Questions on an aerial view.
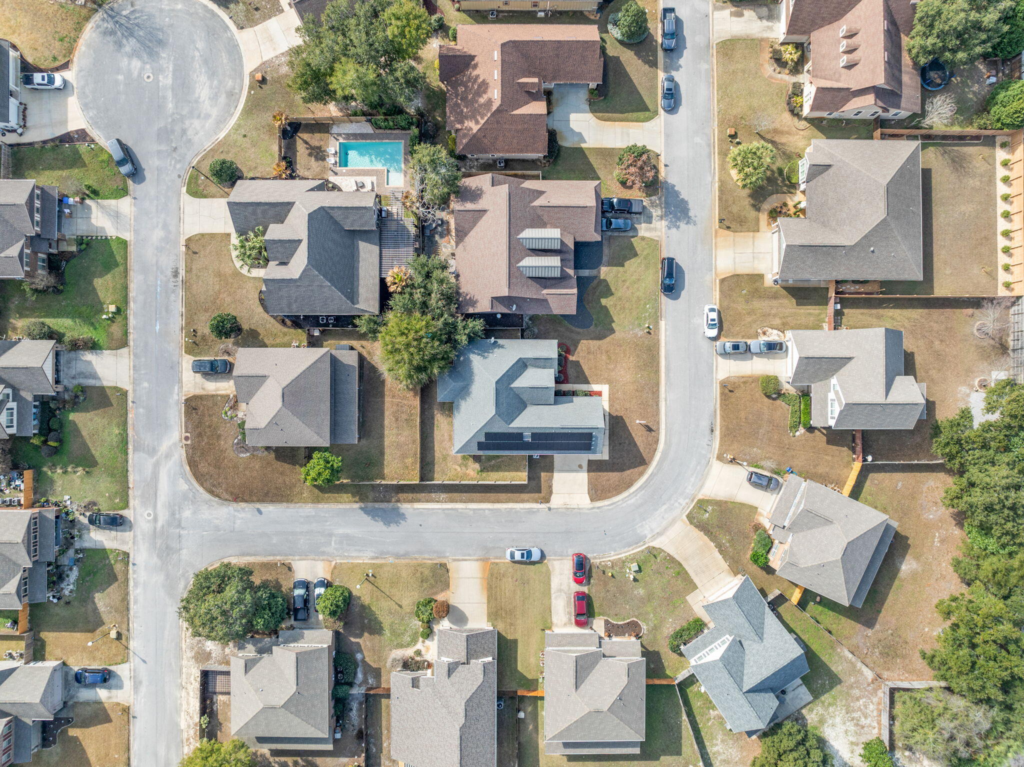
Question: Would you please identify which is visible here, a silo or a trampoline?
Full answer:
It is a trampoline that can be seen here.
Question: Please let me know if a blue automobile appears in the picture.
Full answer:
Yes, there is a blue automobile in the image.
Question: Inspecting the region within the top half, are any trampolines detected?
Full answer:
Yes, within the top half there is a trampoline.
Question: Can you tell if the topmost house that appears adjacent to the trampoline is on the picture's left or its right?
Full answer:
You can find the topmost house that appears adjacent to the trampoline on the right side of the picture.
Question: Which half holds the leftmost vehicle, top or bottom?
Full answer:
It is in the top half that the leftmost vehicle appears.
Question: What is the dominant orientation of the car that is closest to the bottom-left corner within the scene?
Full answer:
From this overhead view, the car that is closest to the bottom-left corner appears to run from left to right.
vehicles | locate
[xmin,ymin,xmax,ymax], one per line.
[107,139,137,179]
[748,339,786,355]
[292,576,311,621]
[660,7,679,54]
[571,551,588,584]
[702,304,719,339]
[24,72,68,92]
[505,546,541,563]
[714,339,748,356]
[660,75,677,113]
[659,257,677,295]
[311,576,328,612]
[572,590,589,626]
[77,666,114,686]
[601,196,644,215]
[89,511,127,529]
[601,216,633,233]
[742,471,780,491]
[191,358,232,375]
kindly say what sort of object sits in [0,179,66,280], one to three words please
house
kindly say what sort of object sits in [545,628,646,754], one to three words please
house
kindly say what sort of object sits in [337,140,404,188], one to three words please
swimming pool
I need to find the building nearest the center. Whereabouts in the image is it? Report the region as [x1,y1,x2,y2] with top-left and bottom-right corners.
[437,339,605,455]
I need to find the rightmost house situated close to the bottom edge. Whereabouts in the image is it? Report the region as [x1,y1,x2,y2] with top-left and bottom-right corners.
[681,574,810,738]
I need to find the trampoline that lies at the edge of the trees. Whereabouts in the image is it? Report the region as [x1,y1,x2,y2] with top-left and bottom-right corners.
[921,56,955,89]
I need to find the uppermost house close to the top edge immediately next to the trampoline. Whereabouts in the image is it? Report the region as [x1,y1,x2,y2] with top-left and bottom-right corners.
[780,0,921,118]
